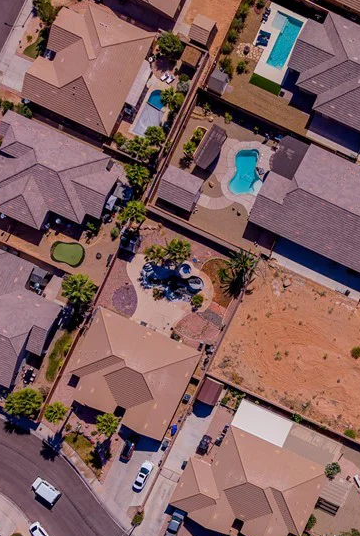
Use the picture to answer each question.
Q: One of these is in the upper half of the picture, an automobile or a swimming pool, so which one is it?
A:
swimming pool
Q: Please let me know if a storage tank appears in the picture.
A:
No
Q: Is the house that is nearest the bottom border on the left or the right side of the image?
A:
right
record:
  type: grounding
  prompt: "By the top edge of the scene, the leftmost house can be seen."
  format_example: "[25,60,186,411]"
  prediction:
[21,4,155,137]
